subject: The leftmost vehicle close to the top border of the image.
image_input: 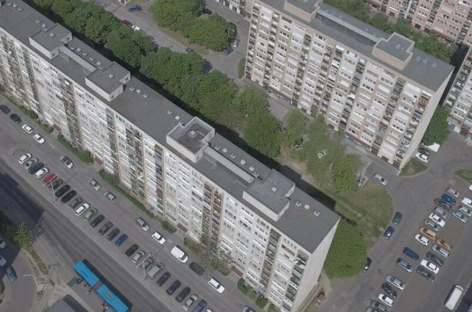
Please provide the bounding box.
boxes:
[127,1,142,13]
